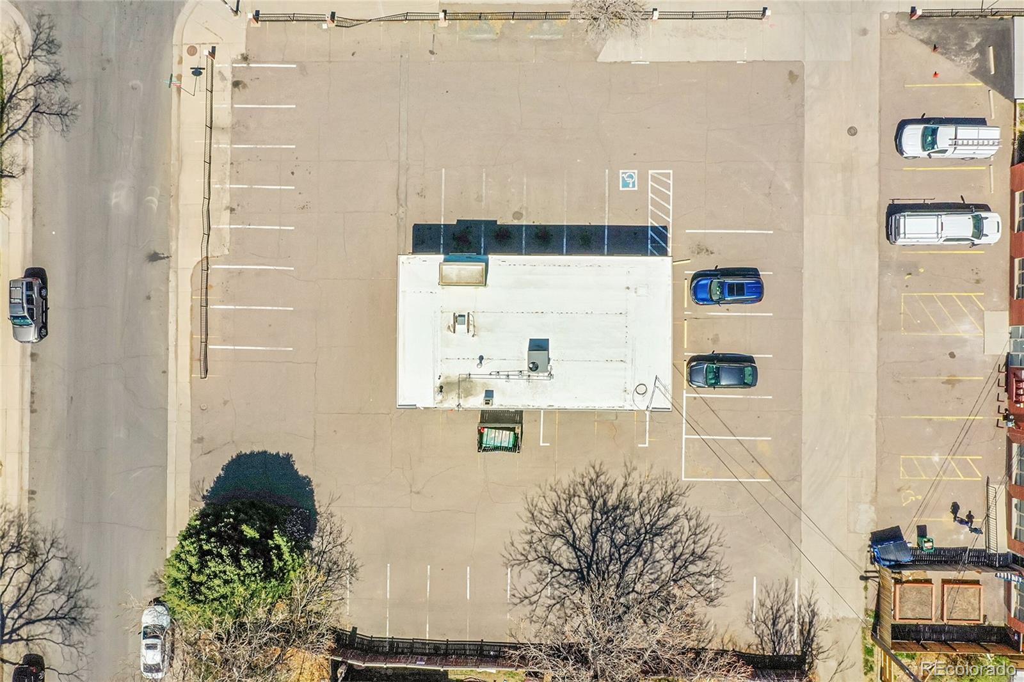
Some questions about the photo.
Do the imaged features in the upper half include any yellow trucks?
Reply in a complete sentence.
No, in the upper half there is no yellow truck.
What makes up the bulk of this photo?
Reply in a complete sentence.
The bulk of the photo consists of paved ground.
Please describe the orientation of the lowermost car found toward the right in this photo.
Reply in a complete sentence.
The lowermost car found toward the right is laid out horizontally.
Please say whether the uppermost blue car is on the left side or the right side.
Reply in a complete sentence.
The uppermost blue car sits on the right side.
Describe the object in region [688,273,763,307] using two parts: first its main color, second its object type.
blue car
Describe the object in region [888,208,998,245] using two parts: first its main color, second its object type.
white truck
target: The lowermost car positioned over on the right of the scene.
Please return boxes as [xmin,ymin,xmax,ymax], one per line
[686,359,757,392]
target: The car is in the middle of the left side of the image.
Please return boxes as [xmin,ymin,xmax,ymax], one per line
[8,276,50,344]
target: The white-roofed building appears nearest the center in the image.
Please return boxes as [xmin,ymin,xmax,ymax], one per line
[397,255,672,411]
